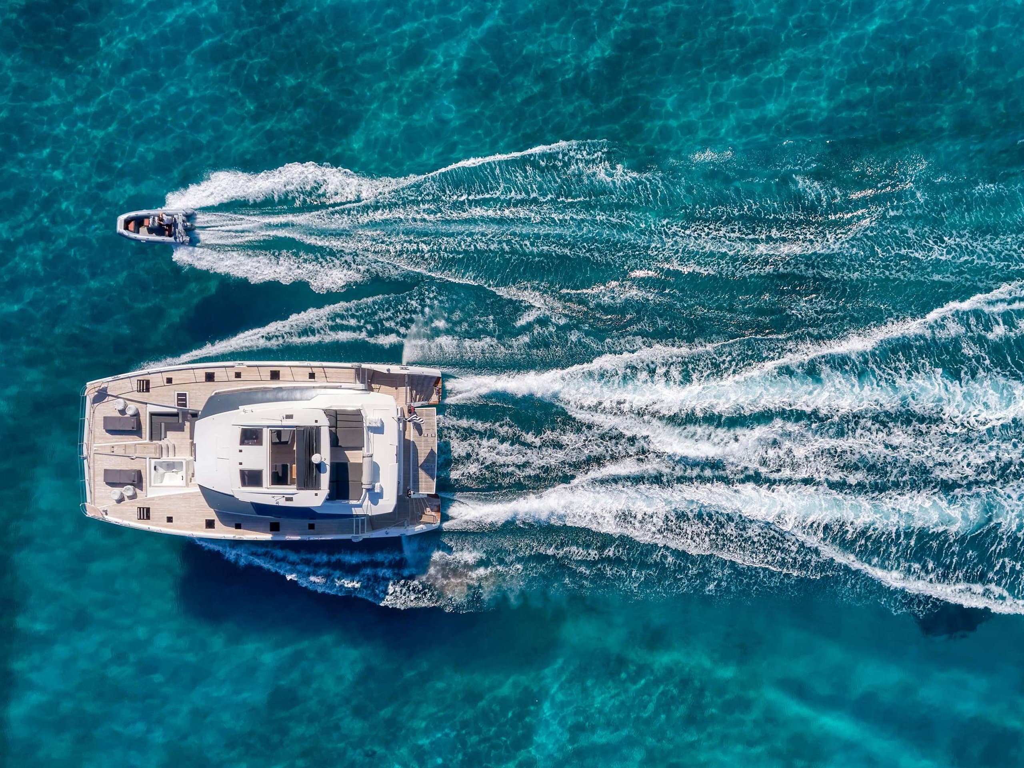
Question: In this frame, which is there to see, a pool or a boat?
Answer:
boat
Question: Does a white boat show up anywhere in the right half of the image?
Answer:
No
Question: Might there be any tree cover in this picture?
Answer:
No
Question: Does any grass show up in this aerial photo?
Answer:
No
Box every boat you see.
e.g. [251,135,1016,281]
[116,208,197,245]
[78,361,444,541]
